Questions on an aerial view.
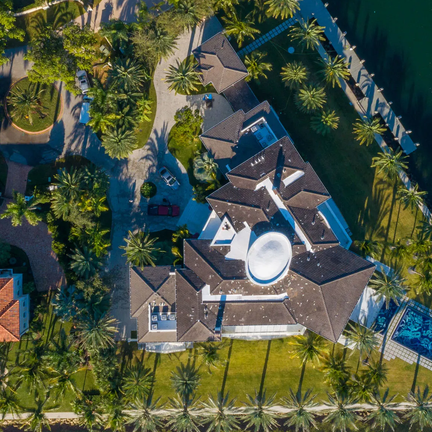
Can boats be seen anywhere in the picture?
No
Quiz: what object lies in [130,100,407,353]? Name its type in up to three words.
house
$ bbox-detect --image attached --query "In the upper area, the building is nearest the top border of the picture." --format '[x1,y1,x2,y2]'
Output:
[192,31,250,93]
